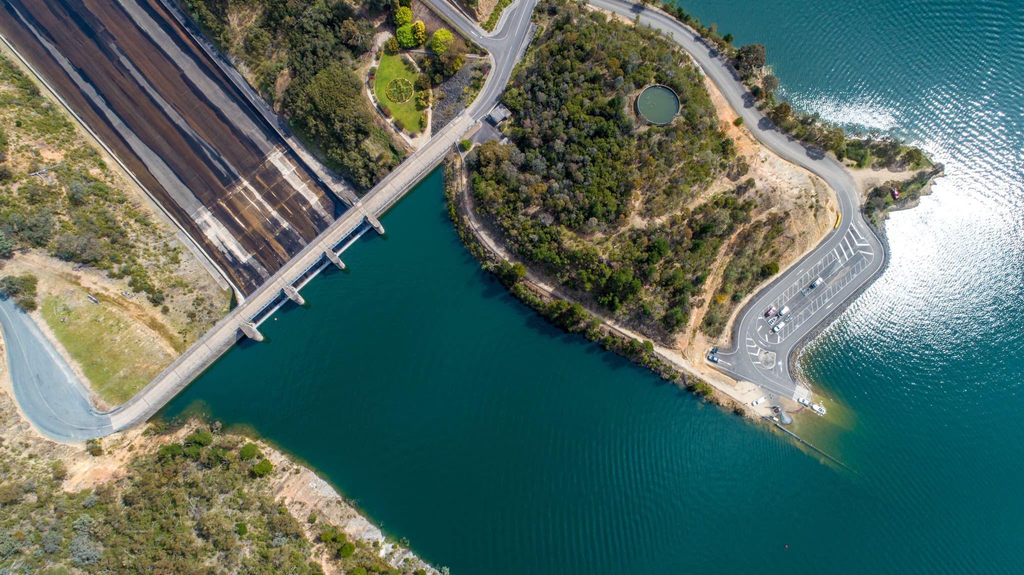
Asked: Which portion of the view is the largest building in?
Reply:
top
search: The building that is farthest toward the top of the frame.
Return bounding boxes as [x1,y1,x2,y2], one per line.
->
[487,104,511,127]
